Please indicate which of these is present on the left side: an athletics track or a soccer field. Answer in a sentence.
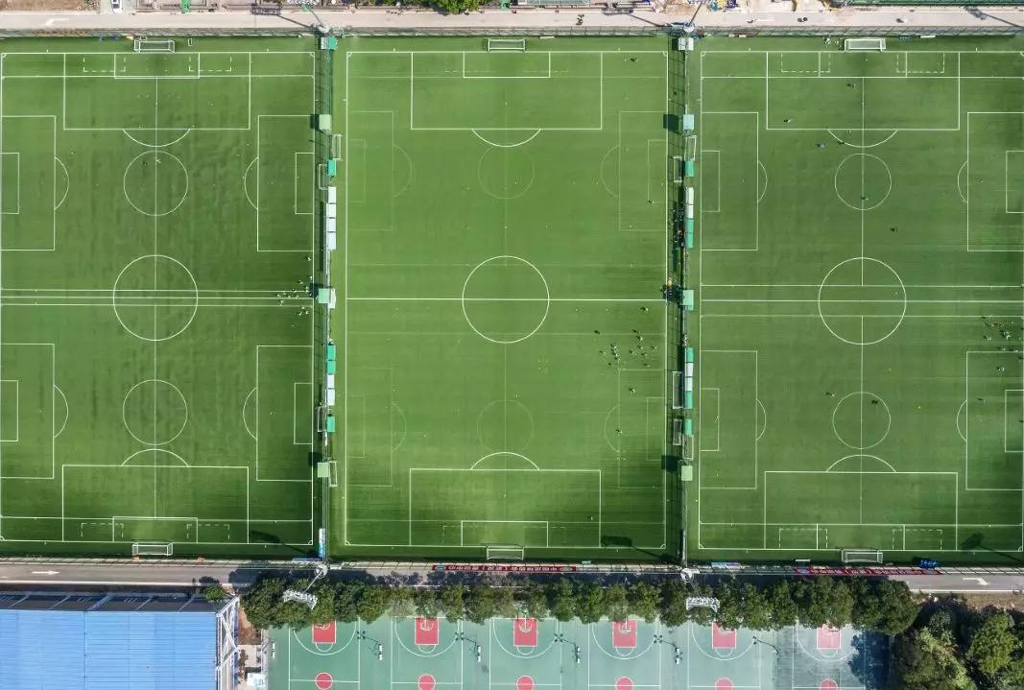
Looking on the left side, you will find a soccer field.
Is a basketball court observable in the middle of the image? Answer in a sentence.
No, the scene shows no basketball court in the middle of the image.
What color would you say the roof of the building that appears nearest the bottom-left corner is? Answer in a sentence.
The roof over the building that appears nearest the bottom-left corner appears blue.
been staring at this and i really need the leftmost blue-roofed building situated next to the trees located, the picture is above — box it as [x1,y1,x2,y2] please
[0,591,238,690]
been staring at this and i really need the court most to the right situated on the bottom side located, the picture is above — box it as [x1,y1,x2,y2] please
[776,617,892,690]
